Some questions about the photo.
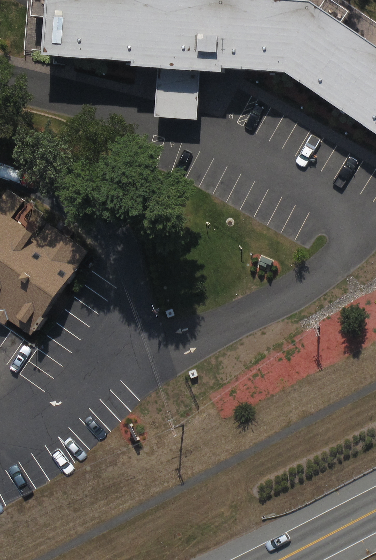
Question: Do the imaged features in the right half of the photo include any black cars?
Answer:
Yes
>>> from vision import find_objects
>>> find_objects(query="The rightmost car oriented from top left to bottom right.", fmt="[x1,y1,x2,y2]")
[84,414,107,443]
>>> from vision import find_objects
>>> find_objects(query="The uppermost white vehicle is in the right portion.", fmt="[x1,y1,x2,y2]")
[296,134,321,167]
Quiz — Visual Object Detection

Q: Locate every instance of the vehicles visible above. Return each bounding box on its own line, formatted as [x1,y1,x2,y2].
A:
[296,134,321,167]
[9,463,33,500]
[244,102,266,132]
[174,148,192,177]
[264,532,292,553]
[84,414,107,443]
[52,446,75,476]
[65,435,87,463]
[334,155,358,189]
[9,345,30,375]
